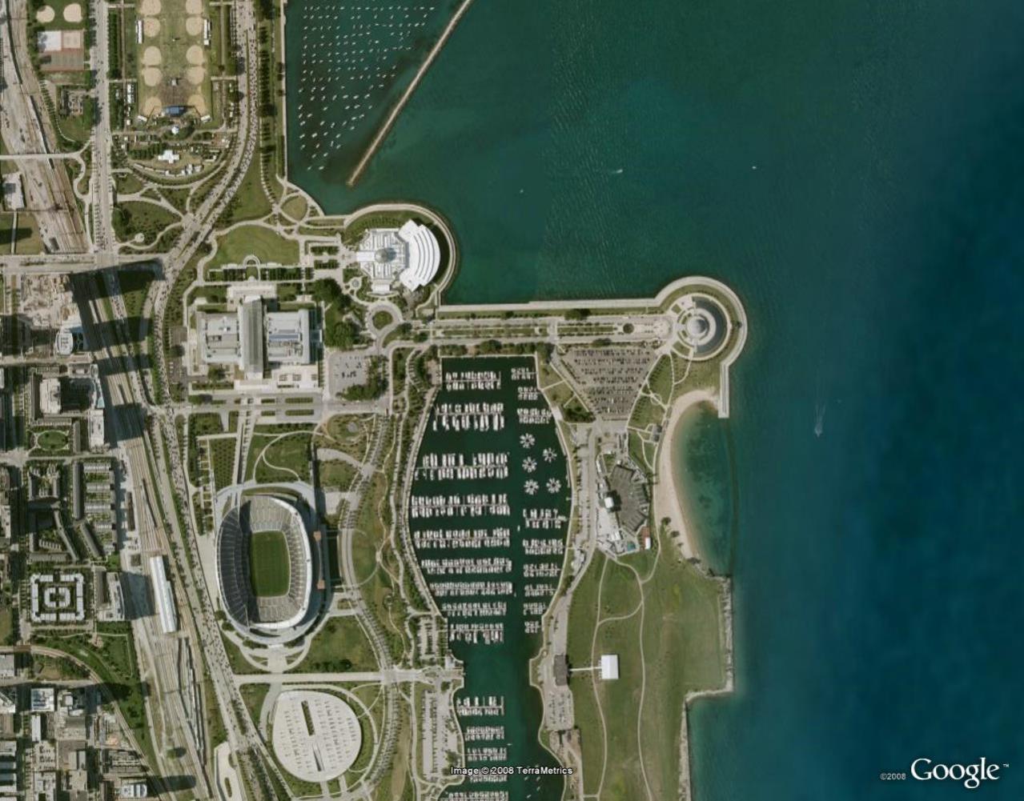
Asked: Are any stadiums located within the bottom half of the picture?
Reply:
Yes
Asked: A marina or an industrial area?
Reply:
marina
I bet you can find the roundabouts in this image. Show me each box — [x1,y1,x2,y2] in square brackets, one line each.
[367,300,403,349]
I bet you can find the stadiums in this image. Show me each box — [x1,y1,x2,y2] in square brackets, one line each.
[215,493,311,631]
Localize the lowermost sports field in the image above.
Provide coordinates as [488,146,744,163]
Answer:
[251,532,289,598]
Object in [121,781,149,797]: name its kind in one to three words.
building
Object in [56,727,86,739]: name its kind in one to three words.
building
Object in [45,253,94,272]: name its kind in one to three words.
bridge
